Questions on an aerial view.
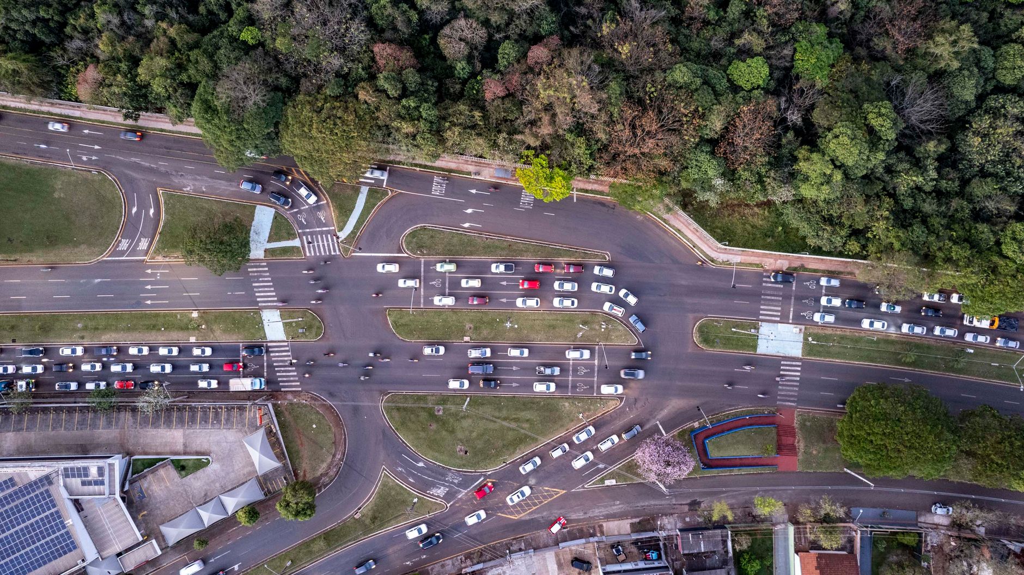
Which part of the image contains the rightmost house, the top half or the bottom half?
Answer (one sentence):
You can find the rightmost house in the bottom half.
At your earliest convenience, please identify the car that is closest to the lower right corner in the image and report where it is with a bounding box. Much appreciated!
[931,500,953,514]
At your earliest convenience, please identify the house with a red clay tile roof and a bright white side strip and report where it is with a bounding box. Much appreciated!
[788,546,859,575]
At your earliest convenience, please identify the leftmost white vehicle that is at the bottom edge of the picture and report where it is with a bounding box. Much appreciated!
[179,555,207,575]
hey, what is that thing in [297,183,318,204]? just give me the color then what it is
white truck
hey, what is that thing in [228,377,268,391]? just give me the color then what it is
white vehicle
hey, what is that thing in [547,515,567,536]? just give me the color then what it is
white car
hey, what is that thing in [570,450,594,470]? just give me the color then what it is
white car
